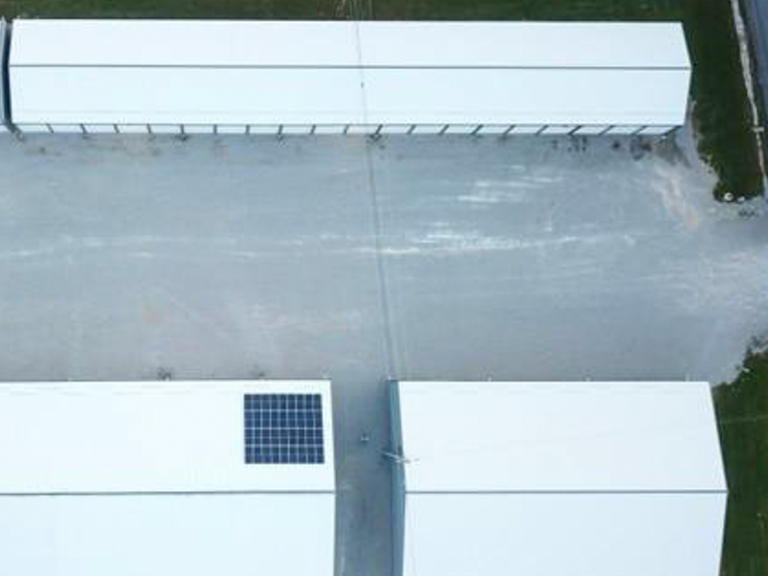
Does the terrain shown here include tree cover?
No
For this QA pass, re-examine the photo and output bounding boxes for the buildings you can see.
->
[8,18,690,139]
[0,379,336,576]
[391,379,727,576]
